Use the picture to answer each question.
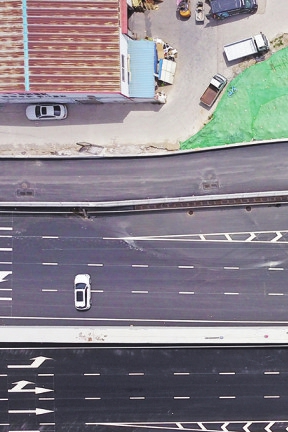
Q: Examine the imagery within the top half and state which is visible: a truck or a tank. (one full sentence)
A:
Looking within the top half, you will find a truck.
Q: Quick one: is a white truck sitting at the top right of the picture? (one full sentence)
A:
Yes, a white truck shows up at the top right of the picture.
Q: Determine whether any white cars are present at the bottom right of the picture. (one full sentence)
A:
No, I can find no white car at the bottom right of the picture.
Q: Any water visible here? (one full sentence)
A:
No, there is no water in the image.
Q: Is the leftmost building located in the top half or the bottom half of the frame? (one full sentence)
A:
The top half of the photo is where the leftmost building is.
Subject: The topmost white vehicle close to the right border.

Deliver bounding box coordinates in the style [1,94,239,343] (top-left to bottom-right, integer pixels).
[221,31,274,63]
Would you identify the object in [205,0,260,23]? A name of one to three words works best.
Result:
truck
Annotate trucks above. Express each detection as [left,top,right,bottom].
[221,31,274,63]
[205,0,260,23]
[199,74,227,108]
